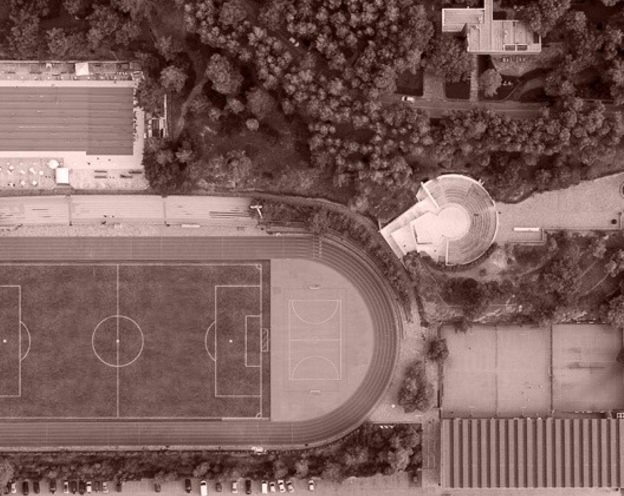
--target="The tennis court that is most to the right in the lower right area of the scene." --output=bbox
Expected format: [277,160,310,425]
[553,325,624,413]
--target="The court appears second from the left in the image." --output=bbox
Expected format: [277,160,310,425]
[443,325,497,417]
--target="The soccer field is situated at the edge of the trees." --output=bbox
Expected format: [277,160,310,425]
[0,259,270,423]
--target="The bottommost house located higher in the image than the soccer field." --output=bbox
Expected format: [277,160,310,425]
[149,118,168,140]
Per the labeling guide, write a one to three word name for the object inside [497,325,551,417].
tennis court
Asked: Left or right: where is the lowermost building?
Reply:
right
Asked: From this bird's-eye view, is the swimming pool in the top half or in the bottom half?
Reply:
top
